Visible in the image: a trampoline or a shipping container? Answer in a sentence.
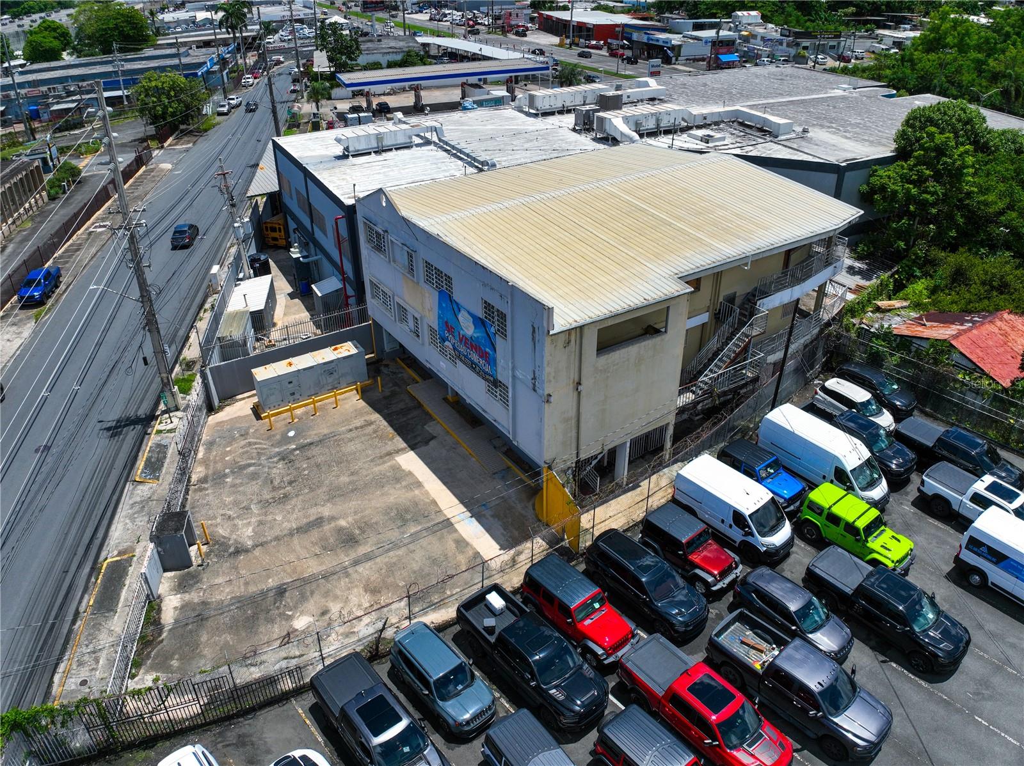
Visible in the photo is a shipping container.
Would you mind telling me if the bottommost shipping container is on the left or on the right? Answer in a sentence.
The bottommost shipping container appears in the left half of the scene.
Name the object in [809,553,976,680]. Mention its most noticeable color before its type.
black truck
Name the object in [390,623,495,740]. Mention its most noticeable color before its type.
blue car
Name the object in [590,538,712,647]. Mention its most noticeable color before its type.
black car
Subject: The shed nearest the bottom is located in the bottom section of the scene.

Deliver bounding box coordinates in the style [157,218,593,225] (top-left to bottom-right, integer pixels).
[148,508,197,570]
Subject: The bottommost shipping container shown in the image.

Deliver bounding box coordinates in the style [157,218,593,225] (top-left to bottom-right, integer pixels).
[249,339,370,415]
